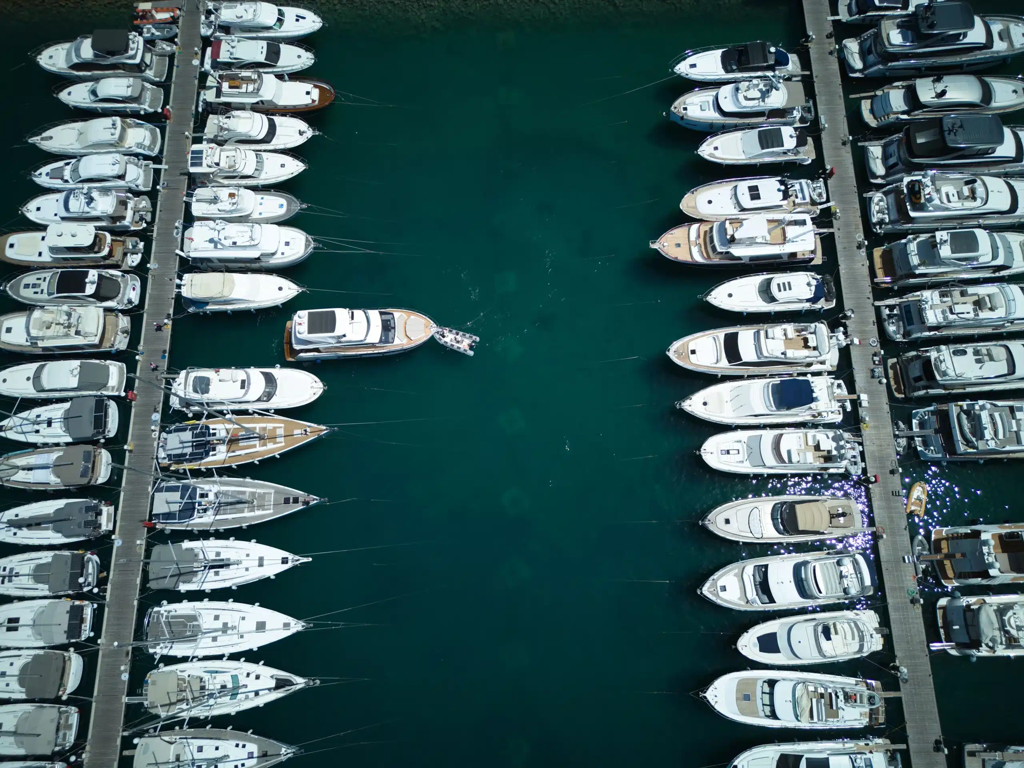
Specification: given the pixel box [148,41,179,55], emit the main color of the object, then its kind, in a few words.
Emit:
gray boat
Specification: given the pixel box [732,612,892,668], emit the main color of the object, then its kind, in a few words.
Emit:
white boat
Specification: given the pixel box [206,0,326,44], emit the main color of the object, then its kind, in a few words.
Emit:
white boat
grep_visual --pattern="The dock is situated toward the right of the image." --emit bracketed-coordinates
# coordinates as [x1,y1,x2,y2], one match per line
[801,0,947,768]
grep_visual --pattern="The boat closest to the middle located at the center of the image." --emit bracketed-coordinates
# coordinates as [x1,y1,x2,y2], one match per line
[434,326,476,356]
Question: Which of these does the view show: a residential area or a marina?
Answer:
marina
